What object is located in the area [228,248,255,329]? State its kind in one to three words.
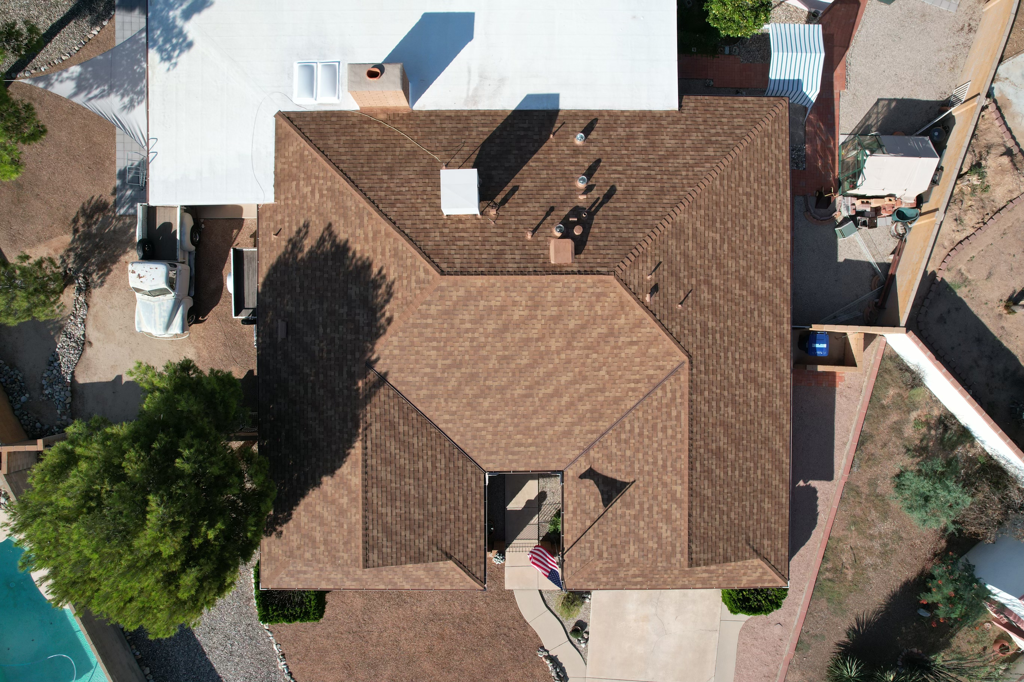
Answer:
trailer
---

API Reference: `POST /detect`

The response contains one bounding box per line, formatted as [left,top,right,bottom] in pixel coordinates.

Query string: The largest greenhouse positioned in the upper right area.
[839,134,941,196]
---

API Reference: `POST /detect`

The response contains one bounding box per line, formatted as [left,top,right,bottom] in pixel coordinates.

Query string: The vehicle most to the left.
[127,203,204,345]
